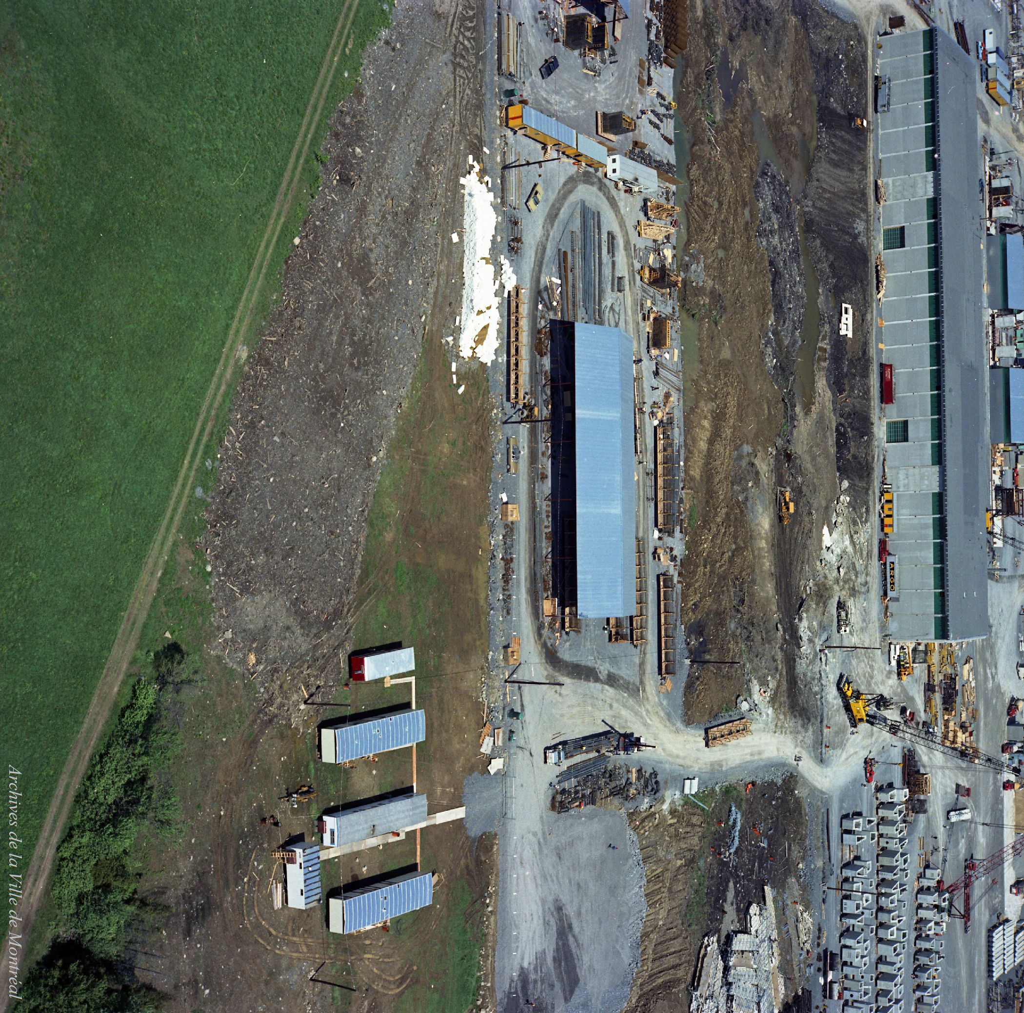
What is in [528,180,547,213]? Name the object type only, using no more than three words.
car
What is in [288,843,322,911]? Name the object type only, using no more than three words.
trailer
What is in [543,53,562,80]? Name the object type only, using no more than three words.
vehicle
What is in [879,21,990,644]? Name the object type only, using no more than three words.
building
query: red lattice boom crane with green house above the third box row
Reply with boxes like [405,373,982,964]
[947,831,1024,922]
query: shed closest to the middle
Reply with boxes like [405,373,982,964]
[543,319,638,621]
